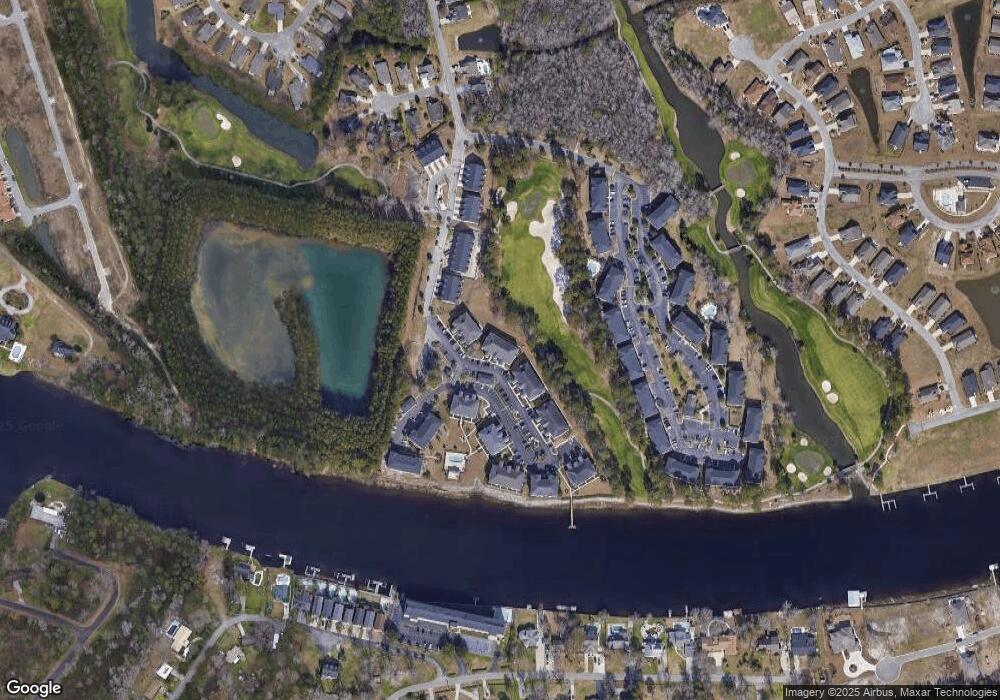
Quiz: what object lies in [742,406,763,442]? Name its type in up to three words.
building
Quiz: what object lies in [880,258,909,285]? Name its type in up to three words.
house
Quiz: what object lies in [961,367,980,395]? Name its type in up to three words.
house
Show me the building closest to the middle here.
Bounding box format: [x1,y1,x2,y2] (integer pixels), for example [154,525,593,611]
[480,332,520,367]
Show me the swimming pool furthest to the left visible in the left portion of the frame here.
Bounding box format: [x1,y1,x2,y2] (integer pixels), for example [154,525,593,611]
[9,343,24,361]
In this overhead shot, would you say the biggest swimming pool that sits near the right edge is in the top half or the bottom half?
top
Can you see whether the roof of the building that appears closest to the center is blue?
No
